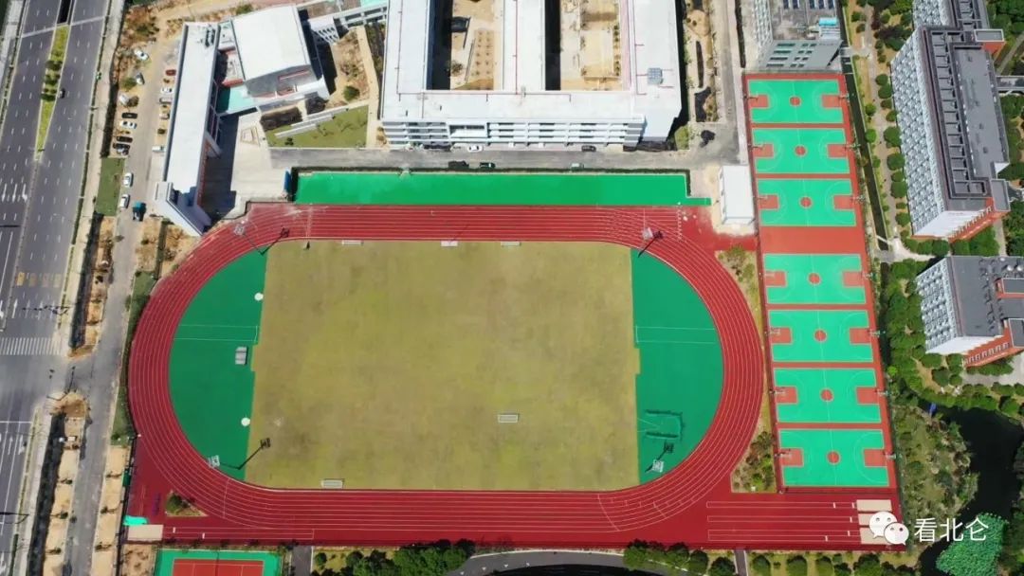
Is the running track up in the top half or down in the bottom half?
bottom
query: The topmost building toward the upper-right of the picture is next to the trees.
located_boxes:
[751,0,844,67]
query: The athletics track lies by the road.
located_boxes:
[125,203,901,552]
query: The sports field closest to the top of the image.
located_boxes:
[296,172,712,205]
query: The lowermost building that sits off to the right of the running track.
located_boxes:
[915,257,1024,354]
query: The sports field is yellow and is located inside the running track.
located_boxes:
[245,240,640,491]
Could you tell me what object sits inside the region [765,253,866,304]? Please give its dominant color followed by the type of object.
green basketball court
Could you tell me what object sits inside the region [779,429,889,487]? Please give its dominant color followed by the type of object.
green basketball court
